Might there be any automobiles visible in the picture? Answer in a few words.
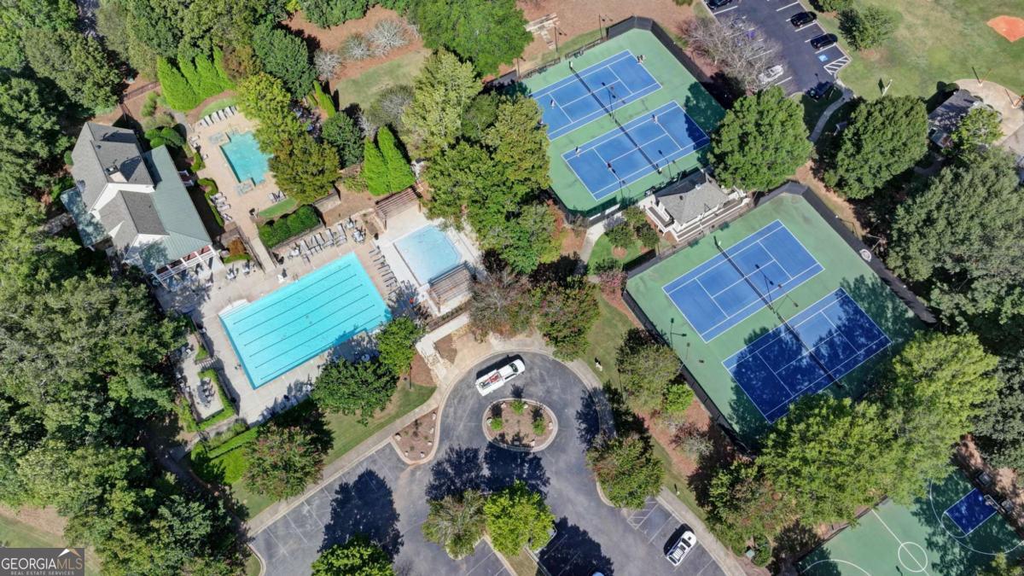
Yes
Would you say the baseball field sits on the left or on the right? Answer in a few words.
right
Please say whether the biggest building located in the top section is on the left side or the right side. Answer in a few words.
left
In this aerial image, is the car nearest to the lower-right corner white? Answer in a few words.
Yes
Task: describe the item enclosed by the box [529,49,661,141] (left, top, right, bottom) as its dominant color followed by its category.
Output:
blue tennis court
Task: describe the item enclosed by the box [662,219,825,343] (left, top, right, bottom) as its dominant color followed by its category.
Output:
blue tennis court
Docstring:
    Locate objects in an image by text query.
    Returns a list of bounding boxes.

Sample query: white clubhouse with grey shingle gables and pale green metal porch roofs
[65,123,225,292]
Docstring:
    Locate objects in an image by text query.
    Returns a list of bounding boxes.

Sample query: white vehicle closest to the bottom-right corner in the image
[666,529,699,565]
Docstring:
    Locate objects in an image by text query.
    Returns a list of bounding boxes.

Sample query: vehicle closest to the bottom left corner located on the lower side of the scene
[480,363,521,392]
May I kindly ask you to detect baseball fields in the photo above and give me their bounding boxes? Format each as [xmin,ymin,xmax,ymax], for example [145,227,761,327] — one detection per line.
[988,15,1024,42]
